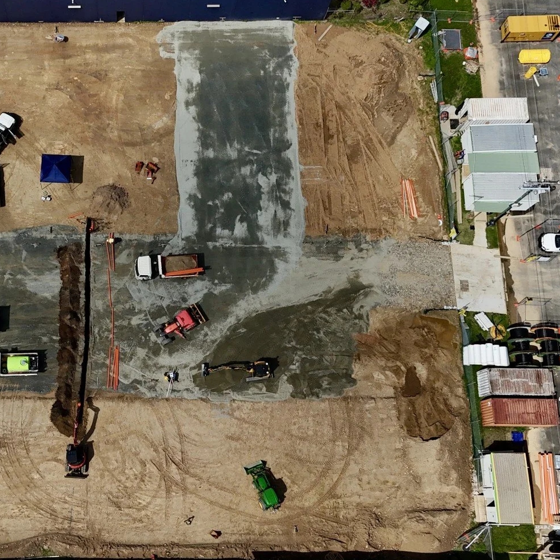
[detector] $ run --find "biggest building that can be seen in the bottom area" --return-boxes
[474,452,539,527]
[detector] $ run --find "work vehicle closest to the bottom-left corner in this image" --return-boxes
[63,392,90,483]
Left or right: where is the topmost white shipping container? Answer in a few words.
right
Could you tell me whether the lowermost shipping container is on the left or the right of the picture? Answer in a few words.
right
